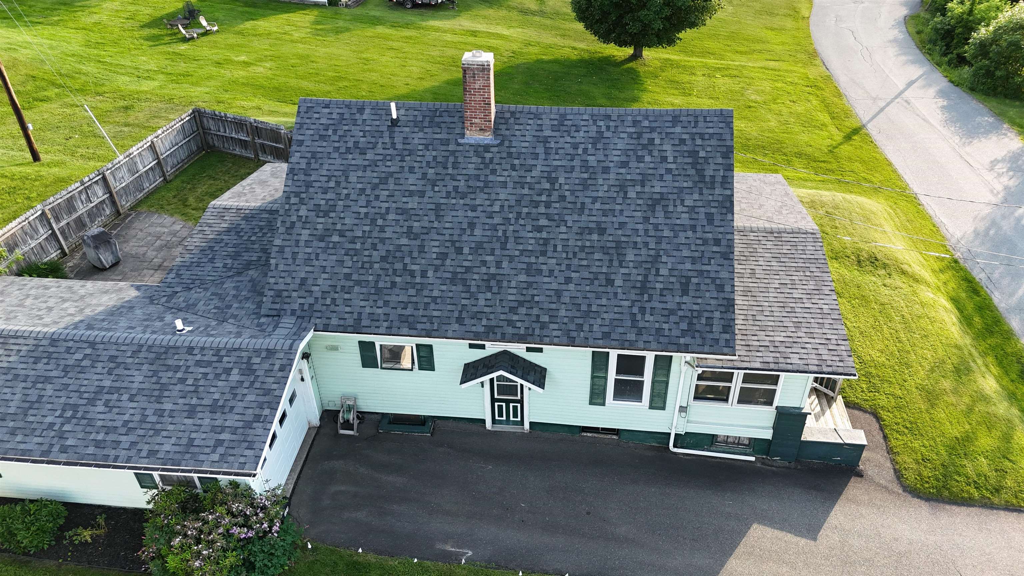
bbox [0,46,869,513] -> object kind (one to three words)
house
